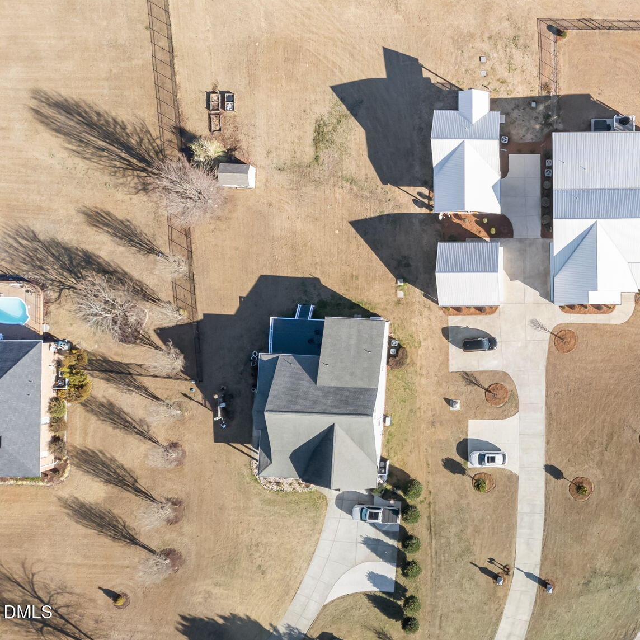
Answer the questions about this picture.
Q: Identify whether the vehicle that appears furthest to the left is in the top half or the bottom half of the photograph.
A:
bottom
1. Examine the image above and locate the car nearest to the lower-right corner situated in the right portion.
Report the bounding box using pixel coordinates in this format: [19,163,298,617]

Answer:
[470,450,507,468]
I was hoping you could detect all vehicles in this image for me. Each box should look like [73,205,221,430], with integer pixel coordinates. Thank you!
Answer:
[352,503,399,524]
[470,450,507,468]
[462,335,496,351]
